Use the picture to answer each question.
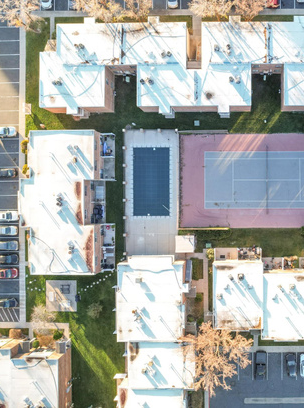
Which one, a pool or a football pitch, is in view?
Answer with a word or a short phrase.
pool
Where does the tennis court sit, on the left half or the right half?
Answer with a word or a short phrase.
right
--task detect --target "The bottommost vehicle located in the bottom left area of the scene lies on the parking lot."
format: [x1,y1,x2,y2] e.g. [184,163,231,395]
[0,295,19,307]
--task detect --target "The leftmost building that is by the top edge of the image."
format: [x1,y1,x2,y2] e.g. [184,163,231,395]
[38,16,198,120]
